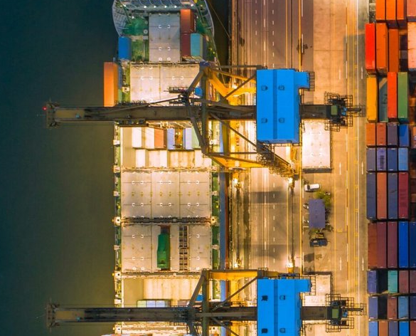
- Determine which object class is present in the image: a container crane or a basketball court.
container crane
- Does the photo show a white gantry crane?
No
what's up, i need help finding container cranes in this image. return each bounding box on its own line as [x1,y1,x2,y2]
[43,60,372,205]
[46,244,369,336]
